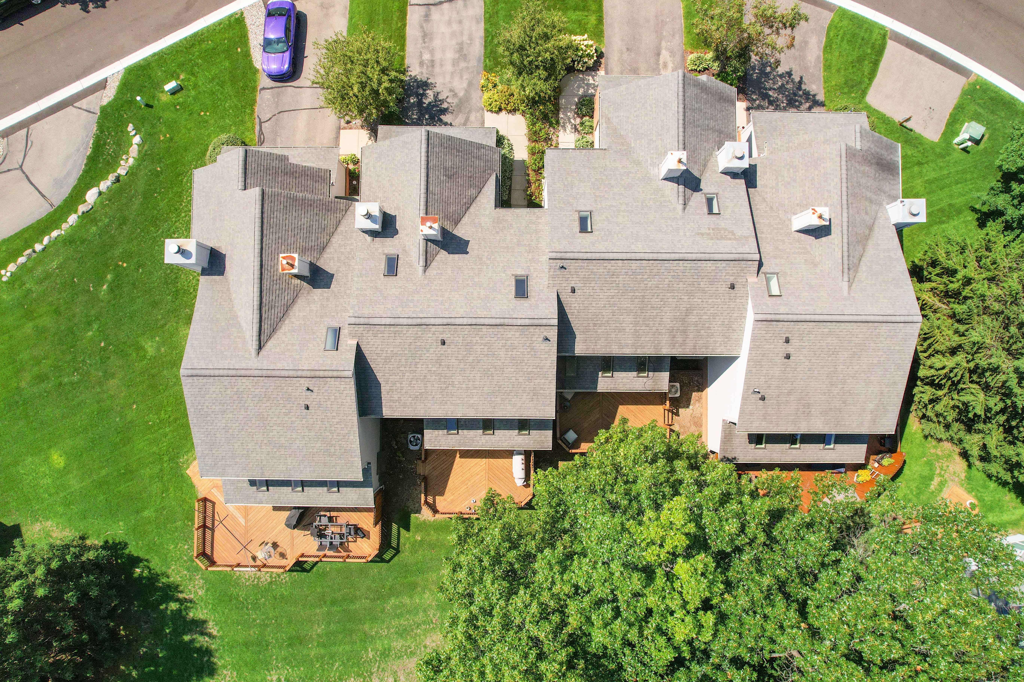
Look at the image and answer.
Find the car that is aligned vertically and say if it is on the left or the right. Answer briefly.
left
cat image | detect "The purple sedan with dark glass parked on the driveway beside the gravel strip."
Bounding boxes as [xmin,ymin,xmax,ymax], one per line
[259,0,301,83]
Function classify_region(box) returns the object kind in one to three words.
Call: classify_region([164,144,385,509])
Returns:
house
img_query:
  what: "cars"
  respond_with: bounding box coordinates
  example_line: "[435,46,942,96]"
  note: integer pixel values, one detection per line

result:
[0,0,42,21]
[259,0,301,83]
